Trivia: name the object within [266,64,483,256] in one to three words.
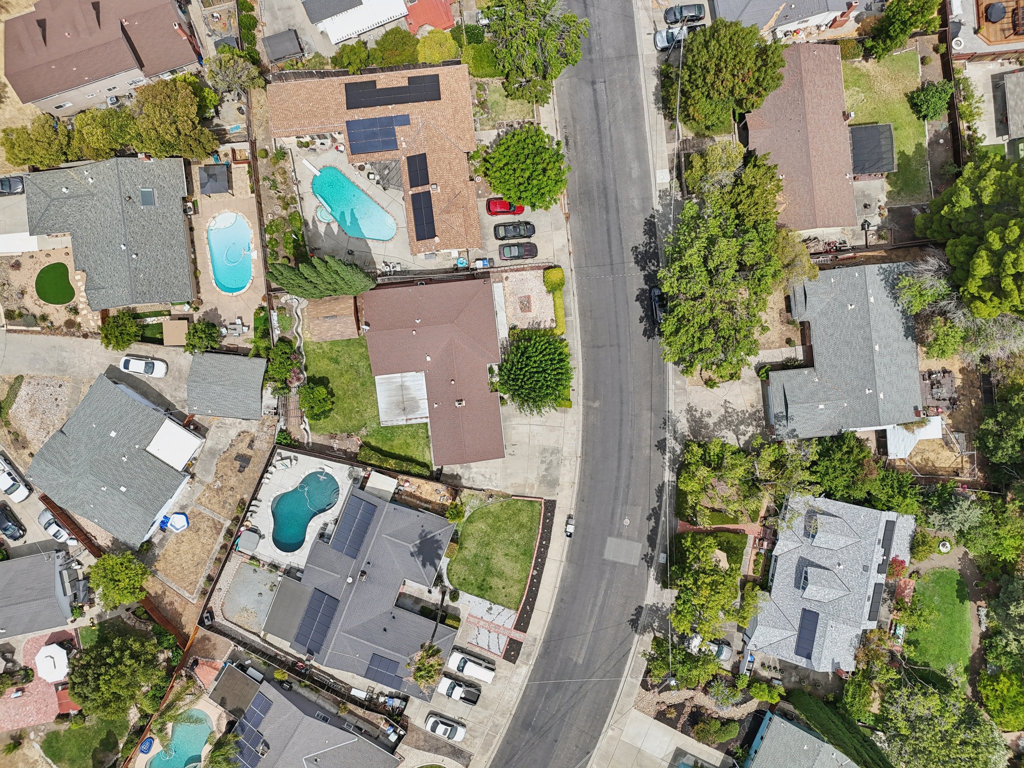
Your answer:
house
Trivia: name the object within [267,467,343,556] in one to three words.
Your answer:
swimming pool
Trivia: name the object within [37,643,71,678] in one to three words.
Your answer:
umbrella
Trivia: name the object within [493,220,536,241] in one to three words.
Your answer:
car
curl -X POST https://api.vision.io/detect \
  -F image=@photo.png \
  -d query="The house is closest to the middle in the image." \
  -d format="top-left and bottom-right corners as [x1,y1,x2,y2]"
[358,278,506,467]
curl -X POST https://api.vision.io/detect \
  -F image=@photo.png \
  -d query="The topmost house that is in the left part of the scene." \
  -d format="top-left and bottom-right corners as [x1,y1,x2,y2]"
[300,0,364,32]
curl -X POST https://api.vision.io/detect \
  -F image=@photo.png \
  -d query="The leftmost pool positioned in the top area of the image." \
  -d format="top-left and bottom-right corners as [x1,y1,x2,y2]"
[204,207,256,297]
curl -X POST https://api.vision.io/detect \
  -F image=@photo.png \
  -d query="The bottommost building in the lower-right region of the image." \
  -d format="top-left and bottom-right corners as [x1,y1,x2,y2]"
[732,709,863,768]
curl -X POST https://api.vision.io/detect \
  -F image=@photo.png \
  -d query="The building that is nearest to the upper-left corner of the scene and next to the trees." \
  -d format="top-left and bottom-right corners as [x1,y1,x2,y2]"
[4,0,211,116]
